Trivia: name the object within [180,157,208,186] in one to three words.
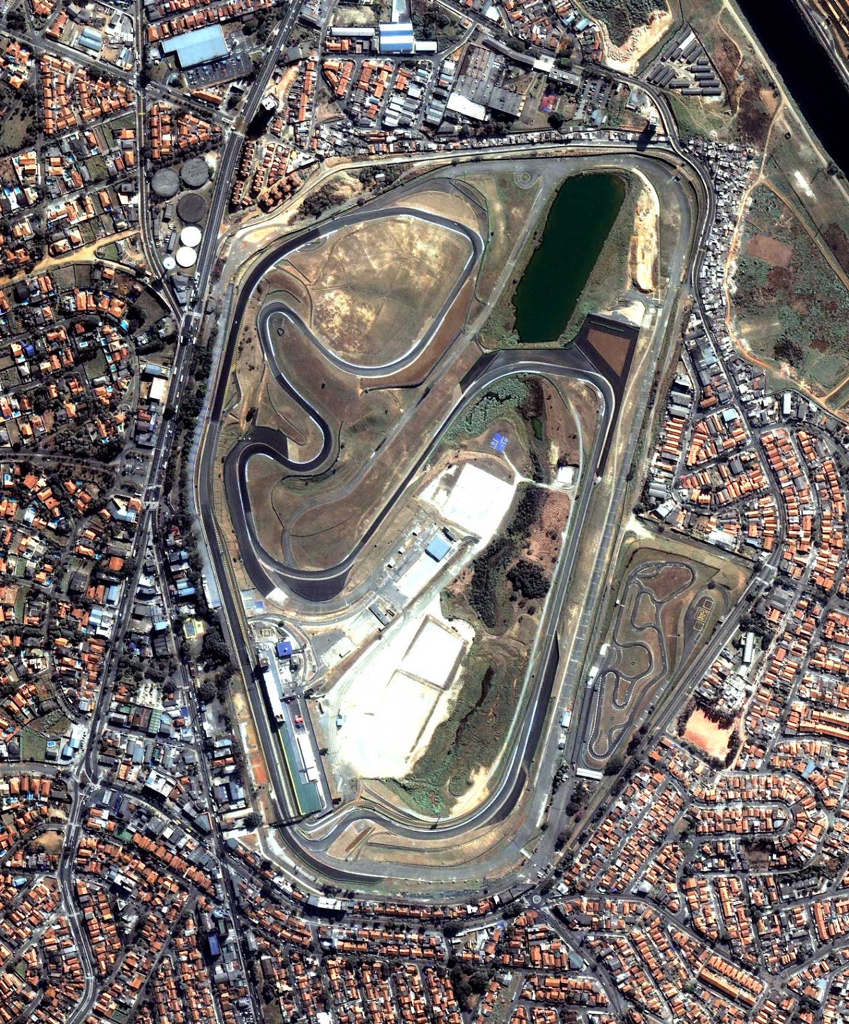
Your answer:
storage tank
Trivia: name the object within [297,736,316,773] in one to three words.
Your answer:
shed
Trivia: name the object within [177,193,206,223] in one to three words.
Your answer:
storage tank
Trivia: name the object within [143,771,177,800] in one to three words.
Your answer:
building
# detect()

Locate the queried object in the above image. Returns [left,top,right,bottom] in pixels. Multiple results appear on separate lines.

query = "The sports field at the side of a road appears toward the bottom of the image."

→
[686,708,735,758]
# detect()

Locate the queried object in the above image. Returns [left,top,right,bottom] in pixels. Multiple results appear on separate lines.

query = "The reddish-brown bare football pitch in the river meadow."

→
[748,235,794,267]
